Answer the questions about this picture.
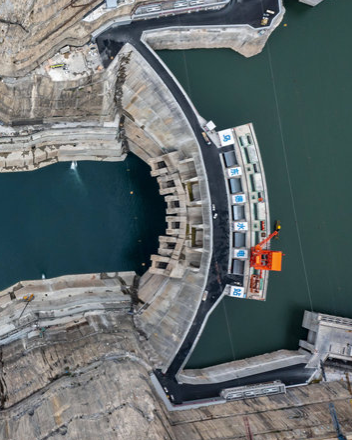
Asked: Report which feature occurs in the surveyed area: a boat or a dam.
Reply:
dam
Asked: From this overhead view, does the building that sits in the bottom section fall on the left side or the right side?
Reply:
right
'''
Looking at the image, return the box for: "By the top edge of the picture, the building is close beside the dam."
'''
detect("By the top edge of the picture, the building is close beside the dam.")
[130,0,232,23]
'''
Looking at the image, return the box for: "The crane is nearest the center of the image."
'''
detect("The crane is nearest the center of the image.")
[251,224,286,276]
